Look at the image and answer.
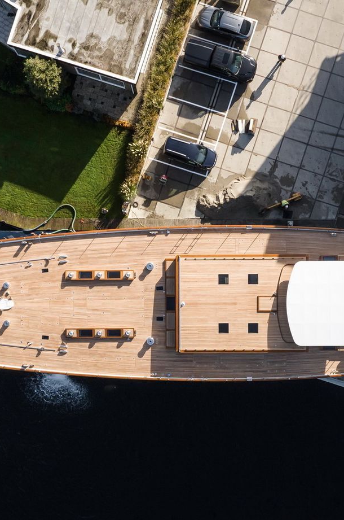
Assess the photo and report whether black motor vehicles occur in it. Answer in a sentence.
Yes, you can see a black motor vehicle in this photo.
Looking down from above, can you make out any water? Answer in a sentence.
Yes, water can be seen from above here.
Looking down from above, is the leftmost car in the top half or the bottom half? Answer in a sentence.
Seen from above, the leftmost car lies in the top half of the view.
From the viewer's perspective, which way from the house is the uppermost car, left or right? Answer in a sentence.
In the image, the uppermost car sits on the right side of the house.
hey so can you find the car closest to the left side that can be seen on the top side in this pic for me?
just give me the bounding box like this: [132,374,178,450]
[161,135,220,171]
